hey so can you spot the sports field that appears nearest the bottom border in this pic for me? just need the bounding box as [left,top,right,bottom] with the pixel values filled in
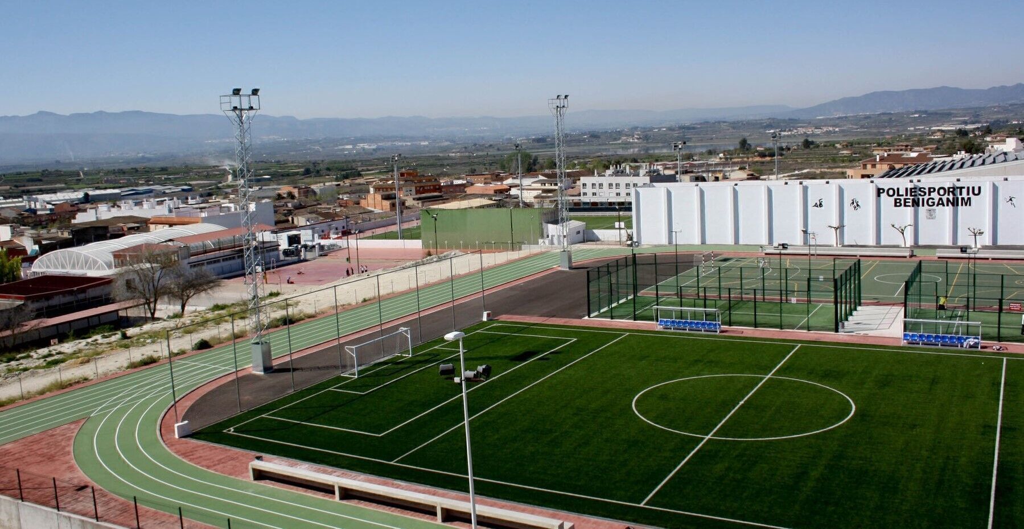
[175,318,1024,529]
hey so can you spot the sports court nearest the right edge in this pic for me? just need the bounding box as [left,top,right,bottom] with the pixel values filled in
[904,259,1024,343]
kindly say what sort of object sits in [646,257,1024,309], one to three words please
sports court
